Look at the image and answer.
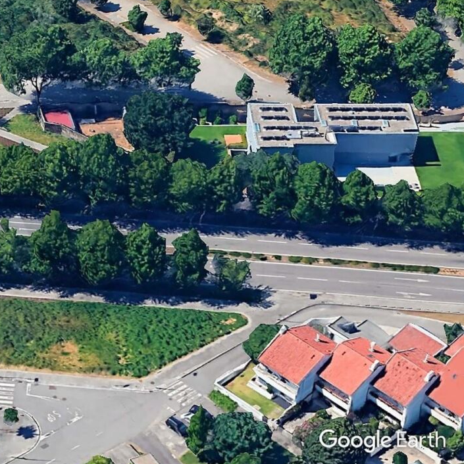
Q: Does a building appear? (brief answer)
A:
Yes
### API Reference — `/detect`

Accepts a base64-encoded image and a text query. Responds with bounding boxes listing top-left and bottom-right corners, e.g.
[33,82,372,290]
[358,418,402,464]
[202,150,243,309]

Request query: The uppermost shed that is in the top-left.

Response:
[43,110,74,138]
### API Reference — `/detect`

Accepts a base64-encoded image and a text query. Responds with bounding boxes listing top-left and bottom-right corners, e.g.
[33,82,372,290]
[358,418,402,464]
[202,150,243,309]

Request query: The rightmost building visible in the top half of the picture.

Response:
[244,103,420,174]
